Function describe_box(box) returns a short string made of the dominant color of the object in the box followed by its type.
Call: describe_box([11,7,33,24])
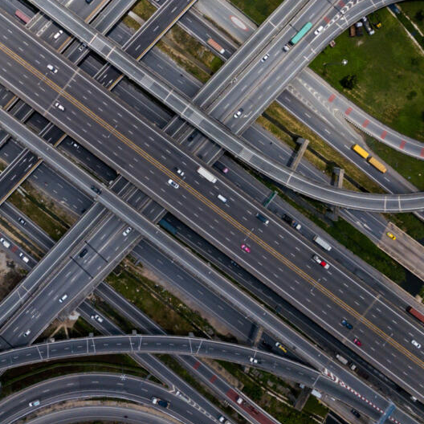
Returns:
pink vehicle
